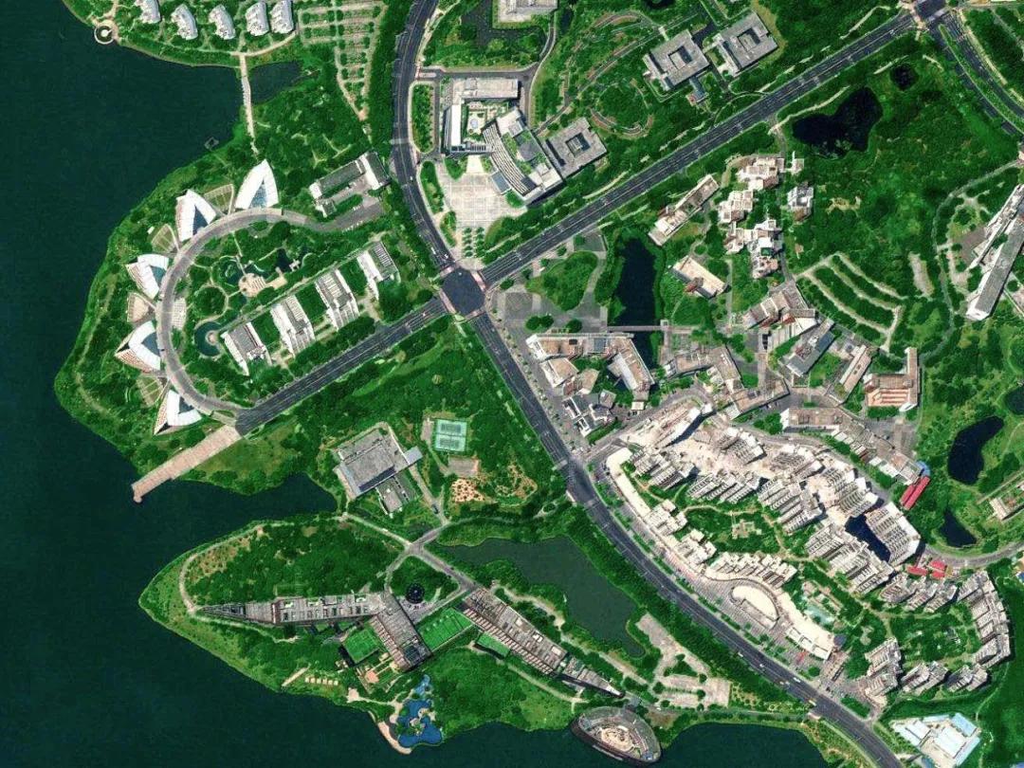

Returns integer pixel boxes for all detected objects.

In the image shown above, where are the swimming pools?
[398,675,442,746]
[804,604,835,624]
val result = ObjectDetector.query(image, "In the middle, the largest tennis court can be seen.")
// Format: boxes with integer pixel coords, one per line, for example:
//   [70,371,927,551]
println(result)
[434,419,468,452]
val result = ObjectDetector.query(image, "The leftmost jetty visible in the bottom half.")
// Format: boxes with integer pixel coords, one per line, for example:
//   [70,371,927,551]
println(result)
[132,426,239,503]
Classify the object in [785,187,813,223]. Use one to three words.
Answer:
house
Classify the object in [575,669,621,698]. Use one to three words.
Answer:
building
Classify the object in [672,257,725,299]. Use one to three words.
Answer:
building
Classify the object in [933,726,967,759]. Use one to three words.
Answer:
shed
